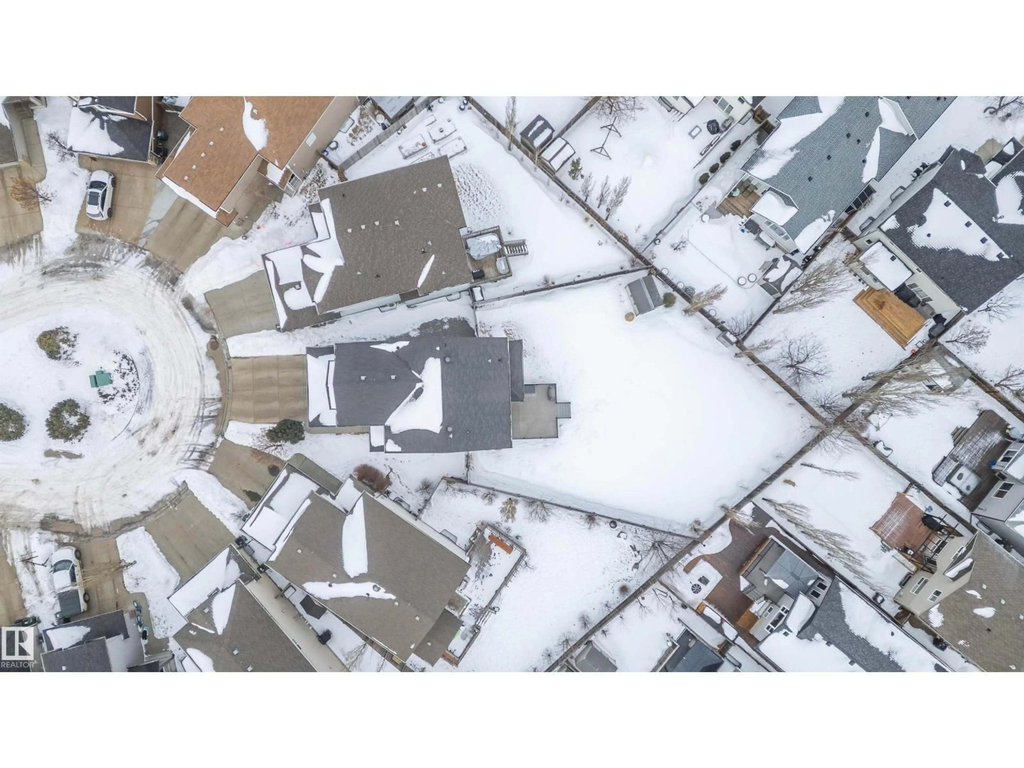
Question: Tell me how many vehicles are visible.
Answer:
2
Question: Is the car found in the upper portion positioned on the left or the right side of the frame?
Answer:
left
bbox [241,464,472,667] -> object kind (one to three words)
house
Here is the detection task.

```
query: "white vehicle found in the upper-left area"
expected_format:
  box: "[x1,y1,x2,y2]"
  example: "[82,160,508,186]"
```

[80,170,113,223]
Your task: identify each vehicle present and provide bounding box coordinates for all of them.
[80,170,113,223]
[46,545,88,618]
